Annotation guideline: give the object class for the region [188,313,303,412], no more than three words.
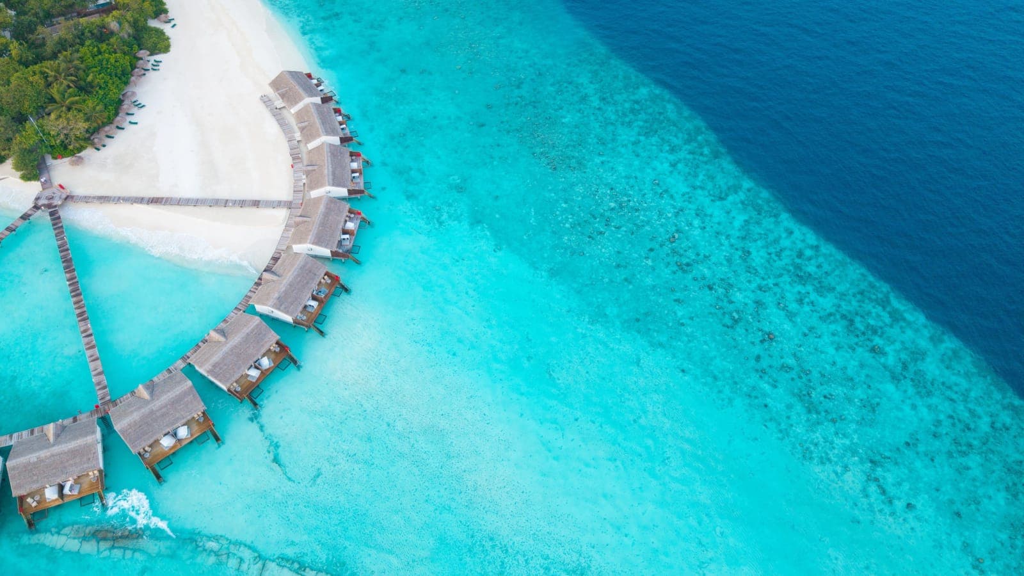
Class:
house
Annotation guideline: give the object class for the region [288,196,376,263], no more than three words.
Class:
house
